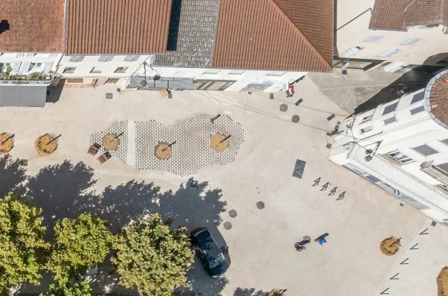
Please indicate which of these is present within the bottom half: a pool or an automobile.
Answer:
automobile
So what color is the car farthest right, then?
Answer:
black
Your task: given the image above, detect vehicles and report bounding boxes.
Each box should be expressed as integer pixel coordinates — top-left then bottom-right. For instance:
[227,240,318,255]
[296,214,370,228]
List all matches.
[190,221,232,282]
[87,248,114,296]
